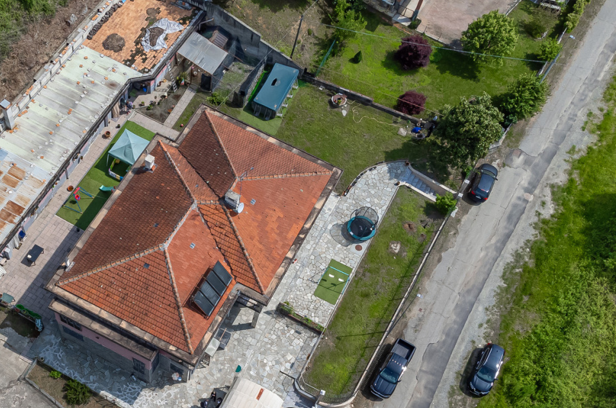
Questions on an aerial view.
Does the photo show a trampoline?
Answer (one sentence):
Yes, the photo shows a trampoline.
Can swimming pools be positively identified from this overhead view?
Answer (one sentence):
Yes, I can see a swimming pool in this picture.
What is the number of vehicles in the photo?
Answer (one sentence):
Altogether the scene contains 3 vehicles.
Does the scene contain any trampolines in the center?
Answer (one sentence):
Yes, looking in the center, one can make out a trampoline.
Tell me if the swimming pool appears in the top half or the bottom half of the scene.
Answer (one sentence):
The swimming pool sits in the top half of the picture.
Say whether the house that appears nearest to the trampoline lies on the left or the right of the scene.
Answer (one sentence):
The house that appears nearest to the trampoline is on the left side of the image.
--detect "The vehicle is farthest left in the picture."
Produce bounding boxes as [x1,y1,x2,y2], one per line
[370,337,419,402]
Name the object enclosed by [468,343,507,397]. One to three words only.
car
